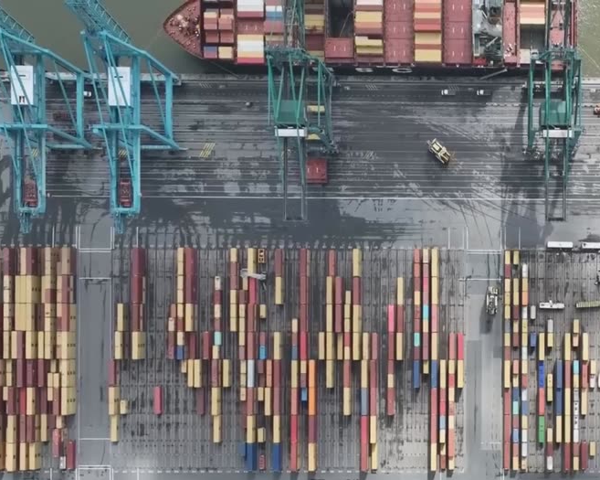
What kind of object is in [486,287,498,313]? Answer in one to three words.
vehicle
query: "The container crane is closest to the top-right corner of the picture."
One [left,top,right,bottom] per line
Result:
[521,0,587,229]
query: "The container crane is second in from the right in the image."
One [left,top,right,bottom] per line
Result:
[267,0,342,227]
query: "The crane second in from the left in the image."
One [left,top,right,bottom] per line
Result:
[72,0,187,227]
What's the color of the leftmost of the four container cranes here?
blue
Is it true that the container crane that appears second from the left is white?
No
